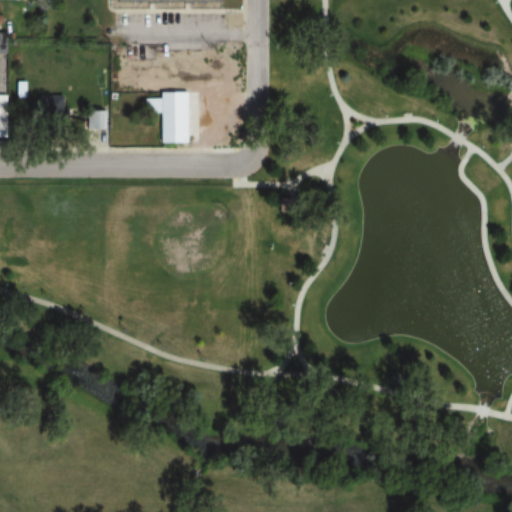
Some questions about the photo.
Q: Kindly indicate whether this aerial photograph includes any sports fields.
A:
Yes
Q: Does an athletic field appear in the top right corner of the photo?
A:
No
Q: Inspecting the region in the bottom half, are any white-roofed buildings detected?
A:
No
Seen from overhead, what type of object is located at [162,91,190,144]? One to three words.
building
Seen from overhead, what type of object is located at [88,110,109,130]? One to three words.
house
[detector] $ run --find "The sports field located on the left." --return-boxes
[154,200,234,280]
